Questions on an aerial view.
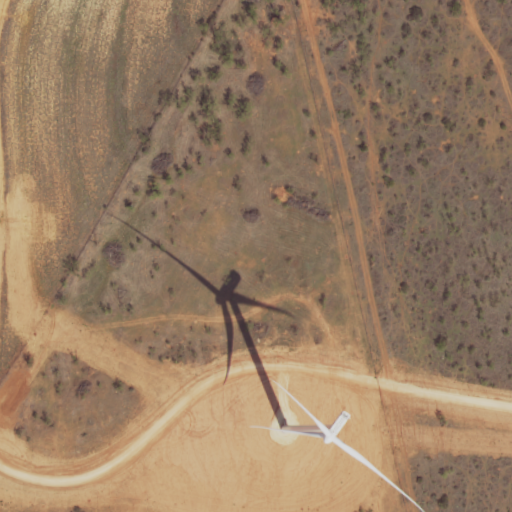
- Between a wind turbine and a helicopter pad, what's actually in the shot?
wind turbine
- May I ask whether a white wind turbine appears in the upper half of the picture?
No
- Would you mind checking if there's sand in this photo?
Yes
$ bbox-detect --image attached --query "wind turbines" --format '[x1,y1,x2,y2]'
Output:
[254,386,429,511]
